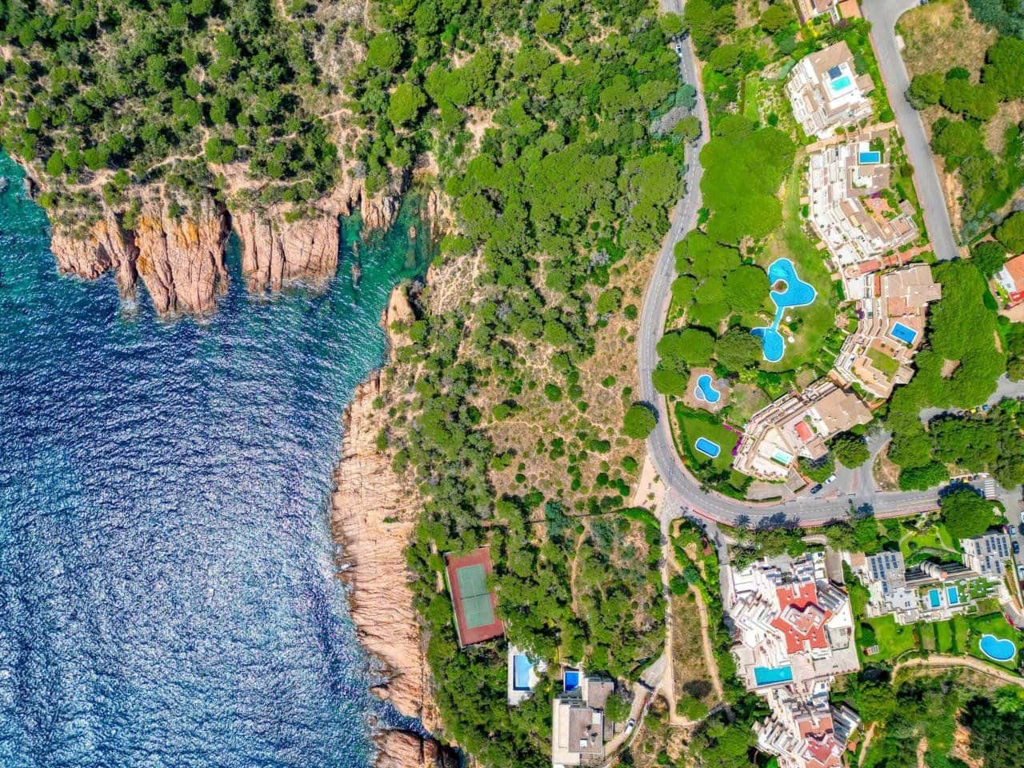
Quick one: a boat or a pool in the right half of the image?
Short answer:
pool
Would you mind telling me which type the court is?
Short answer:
tennis court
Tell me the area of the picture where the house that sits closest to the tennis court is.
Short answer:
bottom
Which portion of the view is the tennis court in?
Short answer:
bottom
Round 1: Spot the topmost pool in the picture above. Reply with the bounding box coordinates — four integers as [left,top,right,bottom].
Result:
[830,74,852,92]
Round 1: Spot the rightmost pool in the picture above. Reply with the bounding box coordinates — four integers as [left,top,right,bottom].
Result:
[978,633,1016,661]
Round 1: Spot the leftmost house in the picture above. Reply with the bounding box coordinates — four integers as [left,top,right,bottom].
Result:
[552,664,614,768]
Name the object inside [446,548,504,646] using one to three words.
tennis court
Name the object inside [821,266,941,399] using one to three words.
house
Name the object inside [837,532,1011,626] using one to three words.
building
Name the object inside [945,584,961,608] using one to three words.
swimming pool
